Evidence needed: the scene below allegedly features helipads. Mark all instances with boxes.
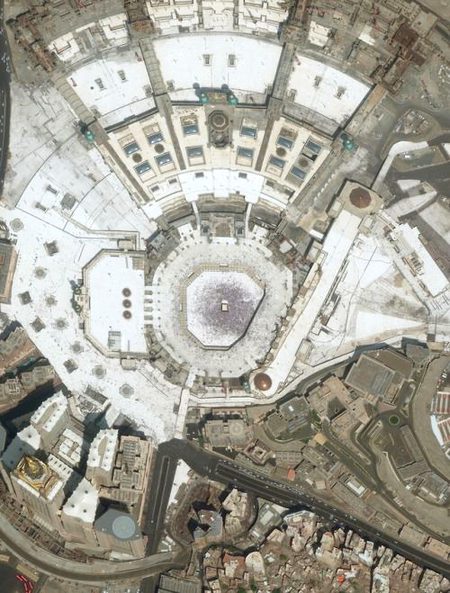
[112,516,136,540]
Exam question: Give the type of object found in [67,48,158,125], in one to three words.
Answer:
building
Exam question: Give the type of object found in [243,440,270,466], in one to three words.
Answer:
house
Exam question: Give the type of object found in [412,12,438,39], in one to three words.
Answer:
shed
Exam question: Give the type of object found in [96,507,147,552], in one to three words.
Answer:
building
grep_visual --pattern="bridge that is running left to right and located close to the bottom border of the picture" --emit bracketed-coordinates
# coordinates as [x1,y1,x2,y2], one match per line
[0,511,189,572]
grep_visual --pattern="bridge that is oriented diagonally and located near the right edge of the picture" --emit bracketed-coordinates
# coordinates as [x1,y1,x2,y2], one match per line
[370,139,433,189]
